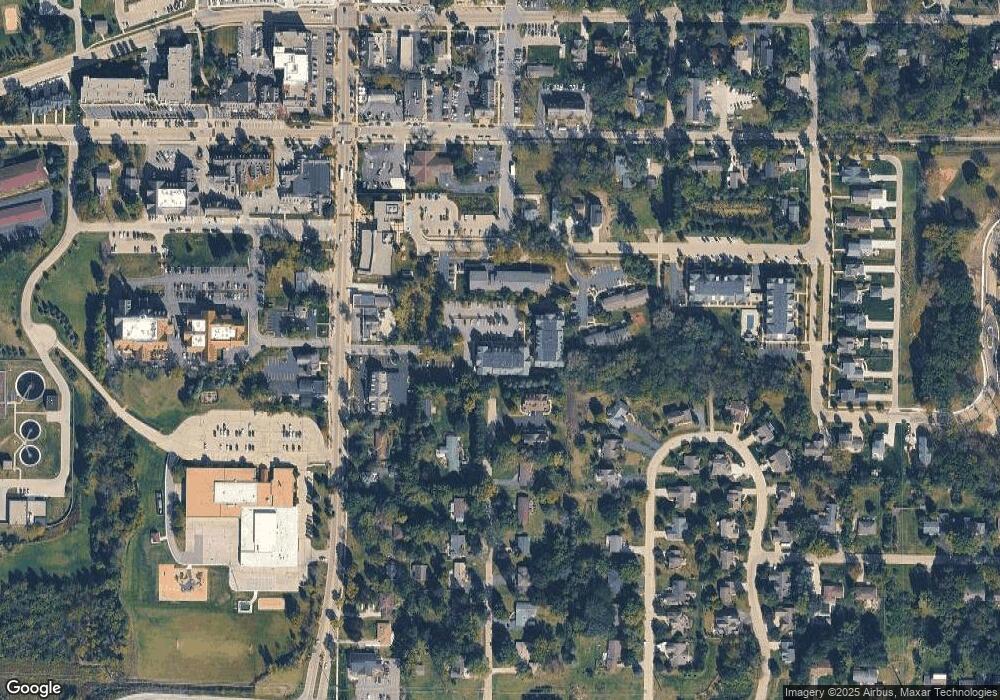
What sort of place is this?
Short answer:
residential area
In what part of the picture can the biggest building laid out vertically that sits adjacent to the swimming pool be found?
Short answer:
right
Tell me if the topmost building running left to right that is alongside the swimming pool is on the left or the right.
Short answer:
right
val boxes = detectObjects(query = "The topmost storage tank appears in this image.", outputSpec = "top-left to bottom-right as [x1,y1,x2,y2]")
[16,371,45,400]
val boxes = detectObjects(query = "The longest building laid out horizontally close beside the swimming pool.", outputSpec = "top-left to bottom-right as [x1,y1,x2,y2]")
[688,273,753,304]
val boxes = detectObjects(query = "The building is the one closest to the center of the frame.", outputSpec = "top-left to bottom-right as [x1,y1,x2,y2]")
[474,345,532,377]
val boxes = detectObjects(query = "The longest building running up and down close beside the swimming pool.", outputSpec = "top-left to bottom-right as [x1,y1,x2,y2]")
[766,276,798,343]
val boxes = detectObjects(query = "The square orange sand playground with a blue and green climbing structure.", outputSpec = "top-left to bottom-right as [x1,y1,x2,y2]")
[159,563,208,601]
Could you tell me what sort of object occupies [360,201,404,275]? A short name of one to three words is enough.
building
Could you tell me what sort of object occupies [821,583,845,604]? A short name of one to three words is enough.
house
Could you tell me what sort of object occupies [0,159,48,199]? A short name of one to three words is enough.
barn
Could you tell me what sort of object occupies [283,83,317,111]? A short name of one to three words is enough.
building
